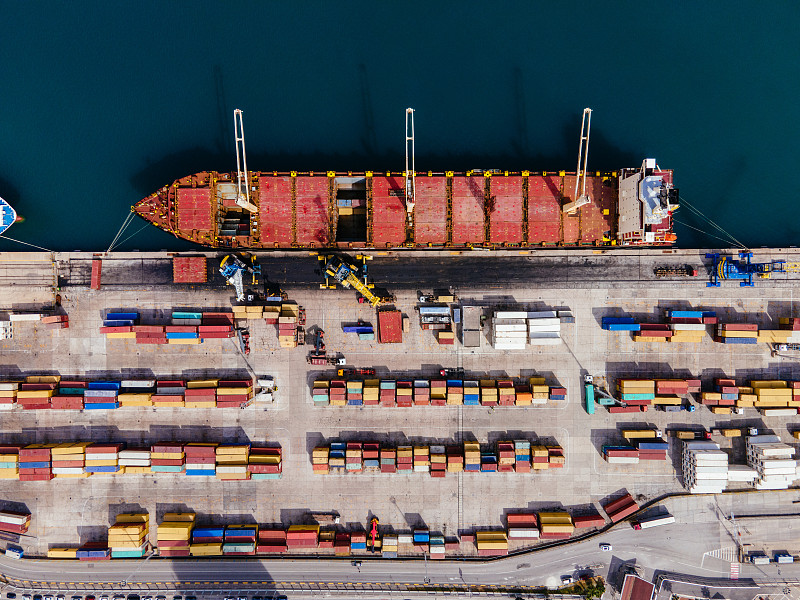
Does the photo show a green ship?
No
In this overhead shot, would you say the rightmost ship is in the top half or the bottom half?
top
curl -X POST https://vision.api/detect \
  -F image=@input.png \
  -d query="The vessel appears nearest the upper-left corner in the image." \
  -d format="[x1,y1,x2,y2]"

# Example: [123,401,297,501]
[0,196,27,235]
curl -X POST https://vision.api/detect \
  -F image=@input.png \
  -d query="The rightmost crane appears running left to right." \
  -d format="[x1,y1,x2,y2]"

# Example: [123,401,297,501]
[705,253,800,287]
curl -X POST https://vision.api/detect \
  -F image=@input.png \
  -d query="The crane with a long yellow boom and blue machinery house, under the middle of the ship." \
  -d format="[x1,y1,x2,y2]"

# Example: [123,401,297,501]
[316,254,383,309]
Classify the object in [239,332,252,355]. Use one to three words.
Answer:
vehicle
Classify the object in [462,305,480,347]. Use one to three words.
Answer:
shed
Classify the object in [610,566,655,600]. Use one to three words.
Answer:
house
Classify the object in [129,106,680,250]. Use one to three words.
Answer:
ship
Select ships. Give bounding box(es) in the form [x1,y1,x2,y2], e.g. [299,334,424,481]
[0,196,27,235]
[129,106,680,250]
